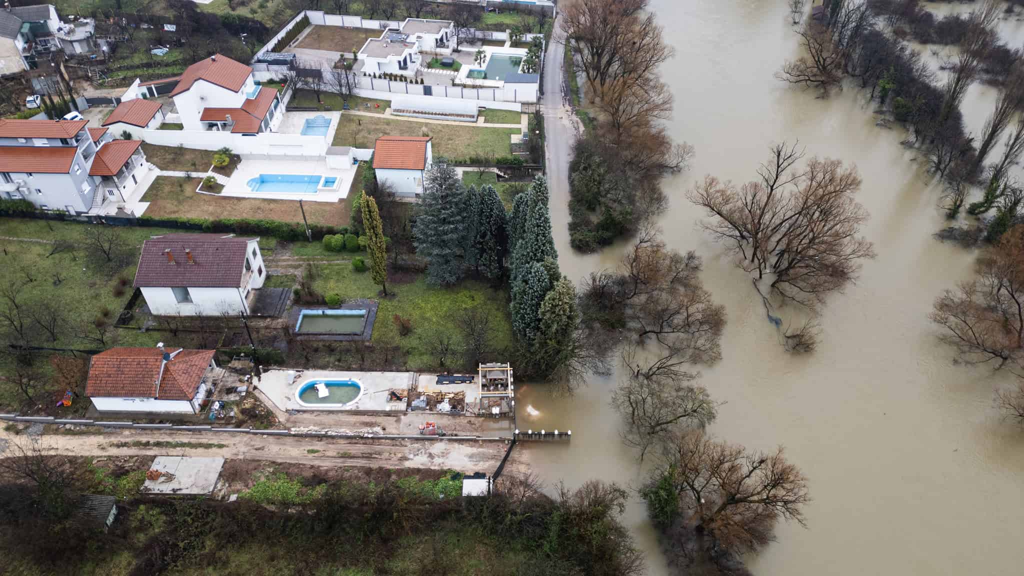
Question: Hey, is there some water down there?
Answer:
Yes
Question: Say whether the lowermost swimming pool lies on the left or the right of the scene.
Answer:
left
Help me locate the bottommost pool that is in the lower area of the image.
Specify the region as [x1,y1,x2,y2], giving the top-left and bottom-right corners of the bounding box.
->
[293,376,371,409]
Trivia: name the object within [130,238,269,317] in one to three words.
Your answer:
house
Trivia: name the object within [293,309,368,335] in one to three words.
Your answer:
swimming pool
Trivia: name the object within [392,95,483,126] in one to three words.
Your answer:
greenhouse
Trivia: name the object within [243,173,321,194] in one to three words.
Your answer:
swimming pool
